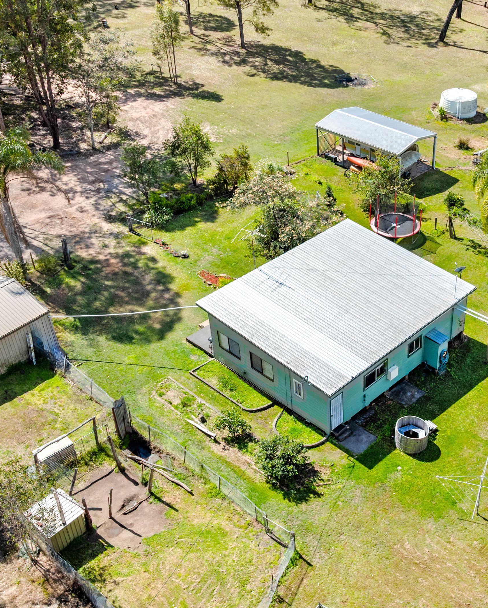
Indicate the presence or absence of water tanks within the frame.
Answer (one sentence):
Yes, a water tank appears in the view.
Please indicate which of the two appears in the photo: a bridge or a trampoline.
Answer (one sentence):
It is a trampoline that can be seen here.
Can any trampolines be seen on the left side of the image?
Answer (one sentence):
No, on the left side of the image there is no trampoline.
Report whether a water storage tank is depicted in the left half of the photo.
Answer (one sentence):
No, no water storage tank is visible in the left half of the photo.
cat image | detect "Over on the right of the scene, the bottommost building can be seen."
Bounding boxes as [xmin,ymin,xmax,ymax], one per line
[194,218,479,437]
